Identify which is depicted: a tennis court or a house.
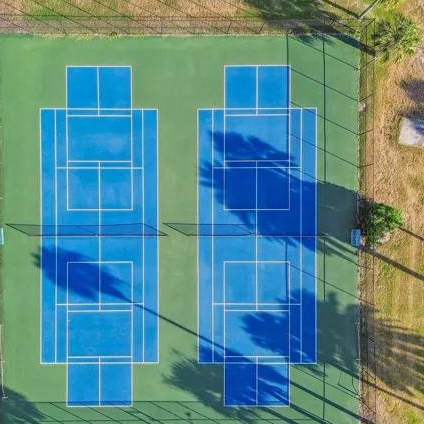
tennis court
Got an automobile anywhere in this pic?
No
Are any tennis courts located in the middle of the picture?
Yes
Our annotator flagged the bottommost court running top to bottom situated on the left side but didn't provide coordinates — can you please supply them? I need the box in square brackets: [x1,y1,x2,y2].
[66,262,132,407]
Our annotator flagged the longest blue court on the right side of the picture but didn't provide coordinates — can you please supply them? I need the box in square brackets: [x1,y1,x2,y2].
[197,108,316,364]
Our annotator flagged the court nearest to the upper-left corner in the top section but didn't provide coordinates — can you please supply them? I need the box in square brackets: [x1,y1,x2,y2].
[66,66,132,211]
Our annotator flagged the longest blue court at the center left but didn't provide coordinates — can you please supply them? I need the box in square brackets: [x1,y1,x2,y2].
[39,108,158,364]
